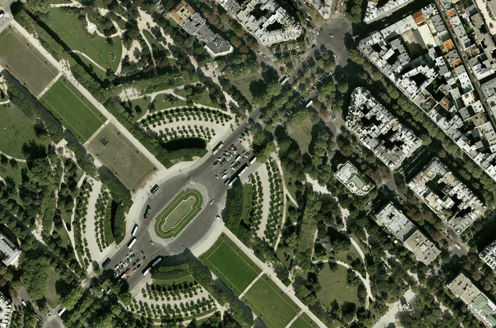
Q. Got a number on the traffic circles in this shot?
1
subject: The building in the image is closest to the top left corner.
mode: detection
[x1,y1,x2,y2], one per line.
[170,0,195,28]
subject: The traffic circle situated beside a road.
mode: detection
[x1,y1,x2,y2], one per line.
[121,162,234,261]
